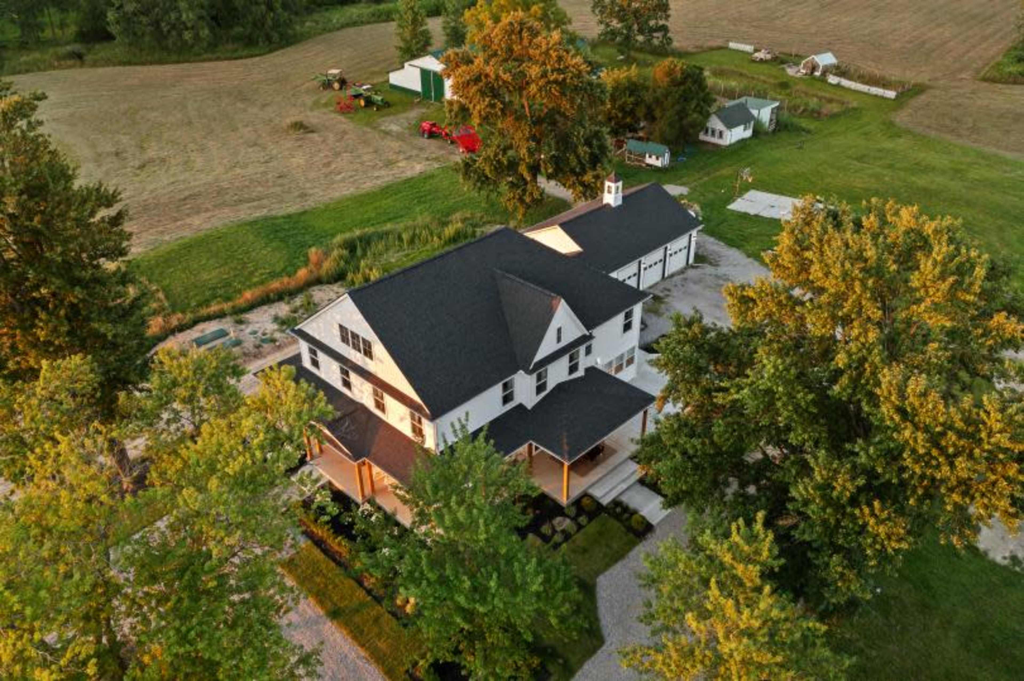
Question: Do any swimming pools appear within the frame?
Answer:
No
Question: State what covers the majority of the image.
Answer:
trees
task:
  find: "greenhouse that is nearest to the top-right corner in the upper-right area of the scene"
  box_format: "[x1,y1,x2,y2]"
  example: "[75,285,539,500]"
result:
[800,49,837,75]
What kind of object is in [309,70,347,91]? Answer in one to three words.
work vehicle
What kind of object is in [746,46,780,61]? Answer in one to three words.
vehicle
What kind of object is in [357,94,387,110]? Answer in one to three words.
work vehicle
